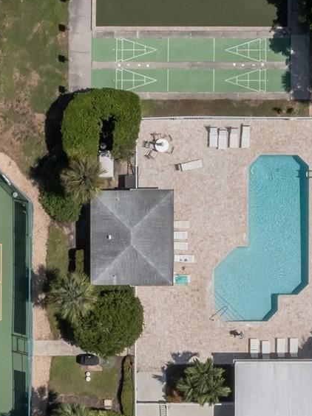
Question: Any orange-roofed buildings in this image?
No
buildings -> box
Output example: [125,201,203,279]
[235,361,312,416]
[90,188,174,287]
